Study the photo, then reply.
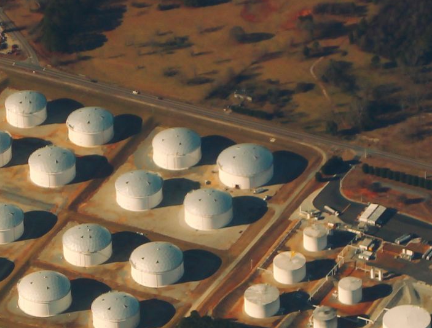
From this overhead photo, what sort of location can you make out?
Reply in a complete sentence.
The area seen from above is an industrial area.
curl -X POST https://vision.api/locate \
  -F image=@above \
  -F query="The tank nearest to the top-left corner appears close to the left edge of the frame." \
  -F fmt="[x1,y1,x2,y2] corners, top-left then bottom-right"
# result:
[3,90,48,129]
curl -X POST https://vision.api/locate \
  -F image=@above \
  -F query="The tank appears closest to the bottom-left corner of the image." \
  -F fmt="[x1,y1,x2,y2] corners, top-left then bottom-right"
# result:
[16,270,74,318]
